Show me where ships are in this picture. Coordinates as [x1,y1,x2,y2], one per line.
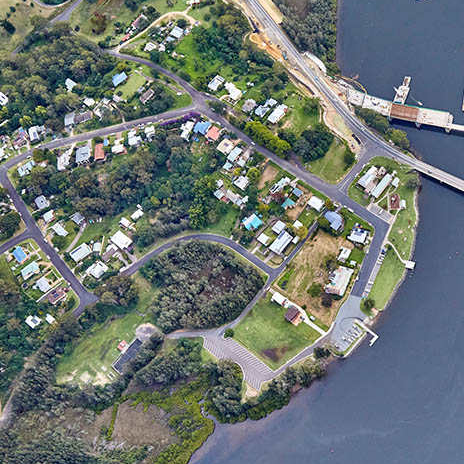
[395,83,410,104]
[403,76,412,88]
